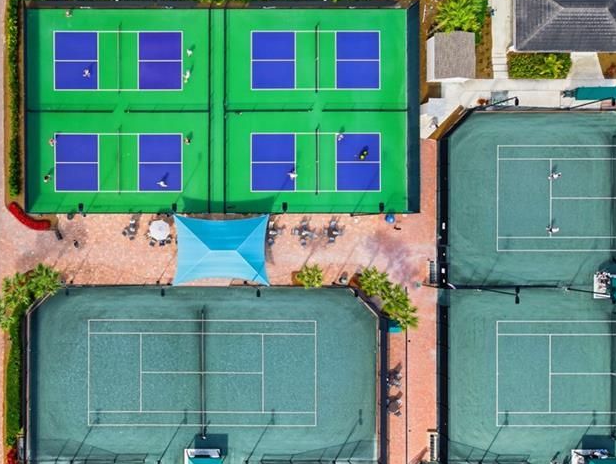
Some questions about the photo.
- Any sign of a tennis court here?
Yes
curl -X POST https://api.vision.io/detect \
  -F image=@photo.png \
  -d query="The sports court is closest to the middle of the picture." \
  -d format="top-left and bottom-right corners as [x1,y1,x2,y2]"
[217,111,407,212]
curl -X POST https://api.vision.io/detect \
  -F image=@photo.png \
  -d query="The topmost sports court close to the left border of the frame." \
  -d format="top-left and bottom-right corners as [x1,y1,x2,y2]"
[27,8,217,111]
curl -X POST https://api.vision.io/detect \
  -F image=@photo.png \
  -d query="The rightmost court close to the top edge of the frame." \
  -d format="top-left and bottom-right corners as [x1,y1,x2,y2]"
[217,8,407,111]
